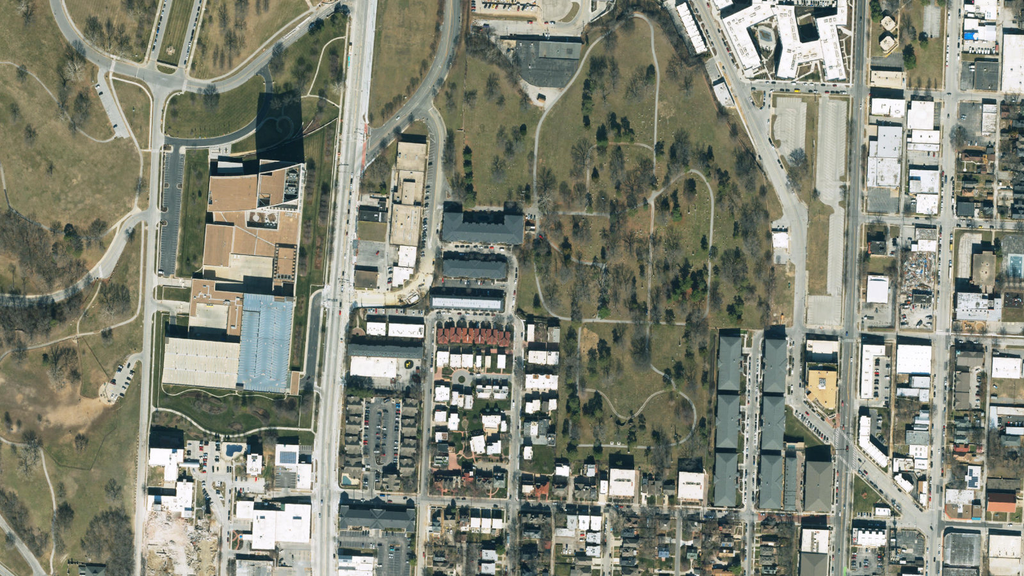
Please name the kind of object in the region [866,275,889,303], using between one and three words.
shed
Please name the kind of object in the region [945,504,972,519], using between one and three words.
building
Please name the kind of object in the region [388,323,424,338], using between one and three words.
house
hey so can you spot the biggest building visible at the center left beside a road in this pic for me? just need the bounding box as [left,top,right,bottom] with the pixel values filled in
[190,160,306,336]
